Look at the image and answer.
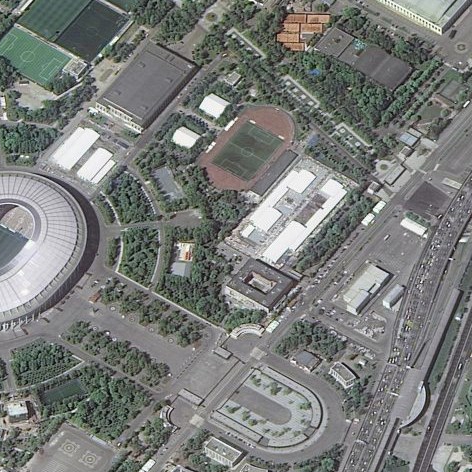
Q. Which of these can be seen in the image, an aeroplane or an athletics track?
athletics track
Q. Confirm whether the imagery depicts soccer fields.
Yes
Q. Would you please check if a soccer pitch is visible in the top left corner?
Yes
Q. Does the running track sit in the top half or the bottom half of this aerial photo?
top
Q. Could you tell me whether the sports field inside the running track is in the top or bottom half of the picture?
top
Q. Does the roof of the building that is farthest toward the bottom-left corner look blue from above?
No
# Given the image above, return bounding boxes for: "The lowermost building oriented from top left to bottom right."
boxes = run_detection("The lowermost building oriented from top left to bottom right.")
[206,437,243,466]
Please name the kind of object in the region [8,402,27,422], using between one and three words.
building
